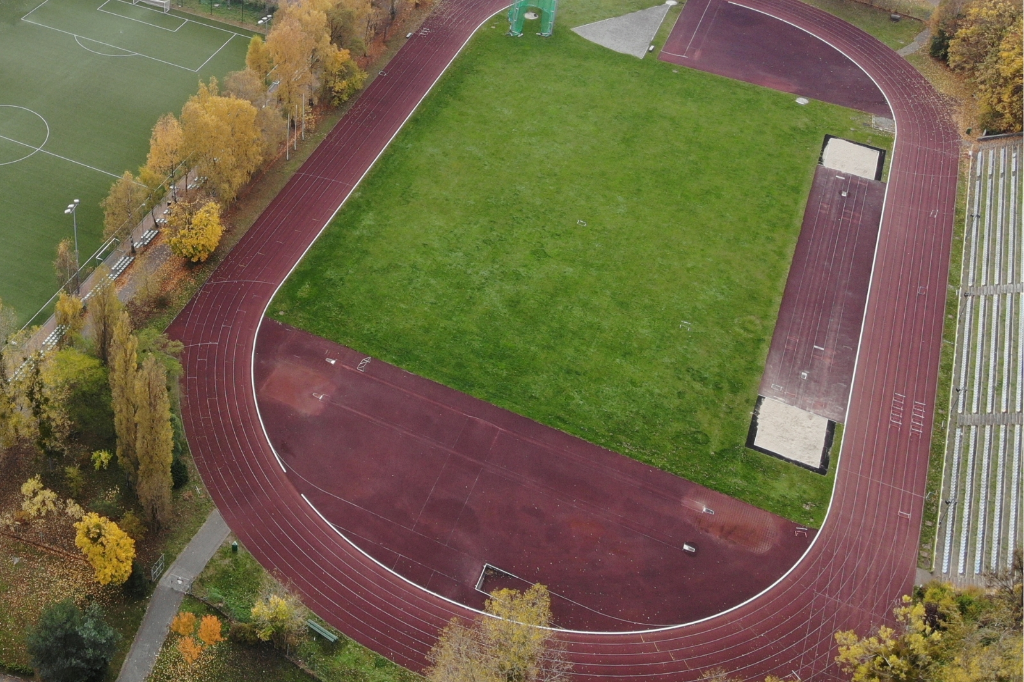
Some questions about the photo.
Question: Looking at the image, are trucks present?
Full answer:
No, I can't see a single truck in this photo.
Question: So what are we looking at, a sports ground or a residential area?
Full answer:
This looks like a sports ground.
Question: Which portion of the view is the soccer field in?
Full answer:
The soccer field appears toward the top left of the photo.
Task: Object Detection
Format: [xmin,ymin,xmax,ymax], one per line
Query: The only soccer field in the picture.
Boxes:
[0,0,304,356]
